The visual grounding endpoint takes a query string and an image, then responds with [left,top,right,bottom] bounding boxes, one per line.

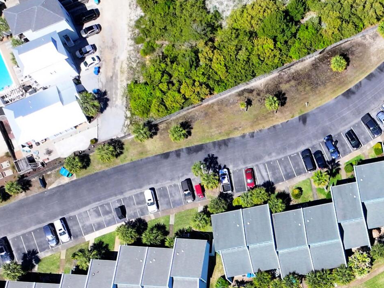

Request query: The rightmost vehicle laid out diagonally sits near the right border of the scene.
[361,113,380,136]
